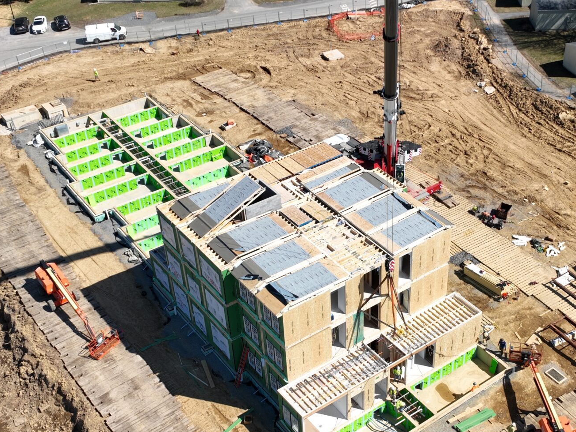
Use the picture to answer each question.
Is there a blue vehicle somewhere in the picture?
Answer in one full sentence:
No, the scene contains no blue vehicle.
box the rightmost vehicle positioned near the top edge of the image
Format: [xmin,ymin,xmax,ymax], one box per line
[82,19,126,43]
